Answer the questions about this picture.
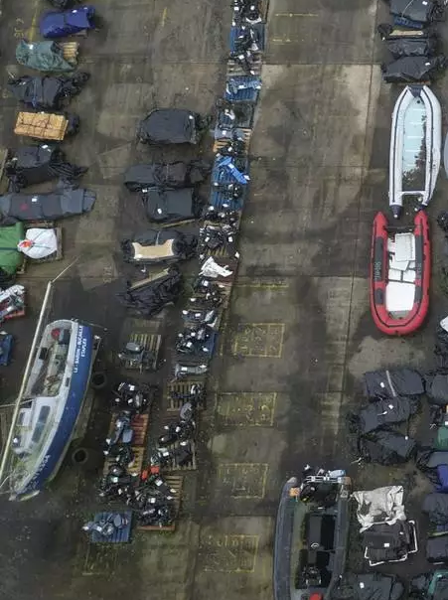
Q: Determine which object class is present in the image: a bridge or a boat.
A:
boat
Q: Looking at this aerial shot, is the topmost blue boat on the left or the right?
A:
left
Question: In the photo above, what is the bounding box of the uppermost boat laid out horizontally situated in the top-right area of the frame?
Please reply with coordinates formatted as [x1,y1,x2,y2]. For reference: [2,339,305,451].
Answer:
[379,0,448,28]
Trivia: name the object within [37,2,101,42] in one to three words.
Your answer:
boat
